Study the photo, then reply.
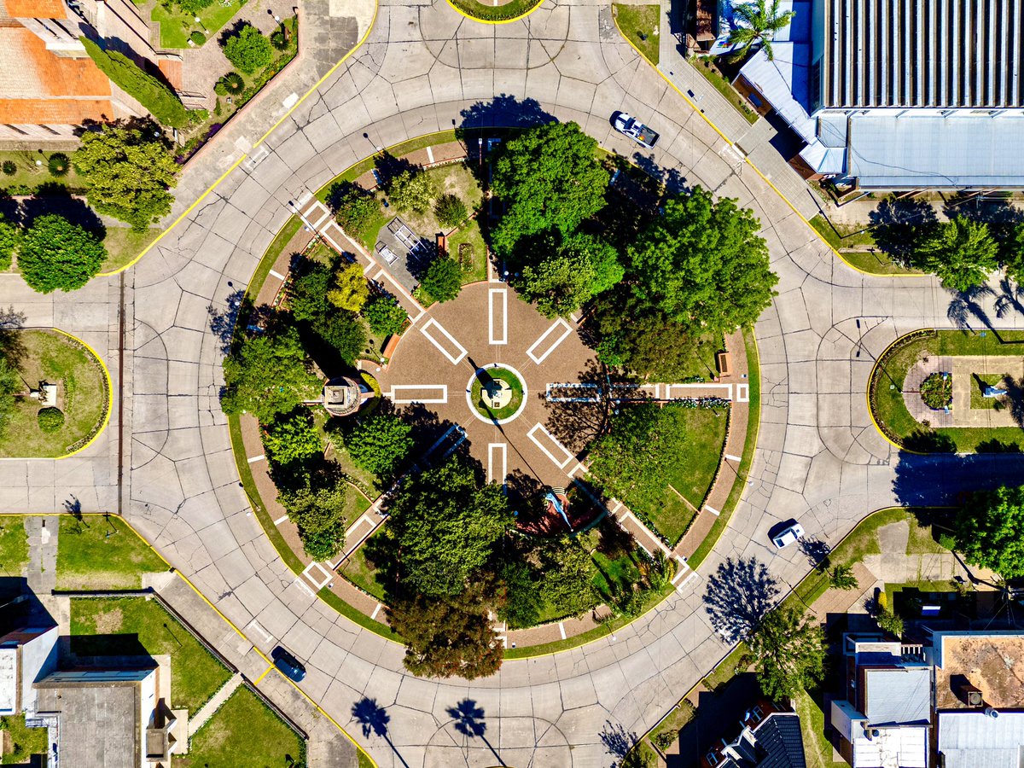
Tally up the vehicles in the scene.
3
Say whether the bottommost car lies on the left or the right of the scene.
left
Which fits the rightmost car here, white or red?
white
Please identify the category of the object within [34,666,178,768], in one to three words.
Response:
building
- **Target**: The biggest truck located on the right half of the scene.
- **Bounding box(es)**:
[615,112,661,147]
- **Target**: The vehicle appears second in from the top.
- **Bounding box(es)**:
[774,526,809,551]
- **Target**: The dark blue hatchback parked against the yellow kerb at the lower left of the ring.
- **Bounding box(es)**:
[272,652,308,684]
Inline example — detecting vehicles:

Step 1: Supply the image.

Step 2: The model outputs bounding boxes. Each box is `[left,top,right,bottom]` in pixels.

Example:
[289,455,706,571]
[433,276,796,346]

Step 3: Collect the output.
[774,526,809,551]
[272,652,308,684]
[615,112,661,147]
